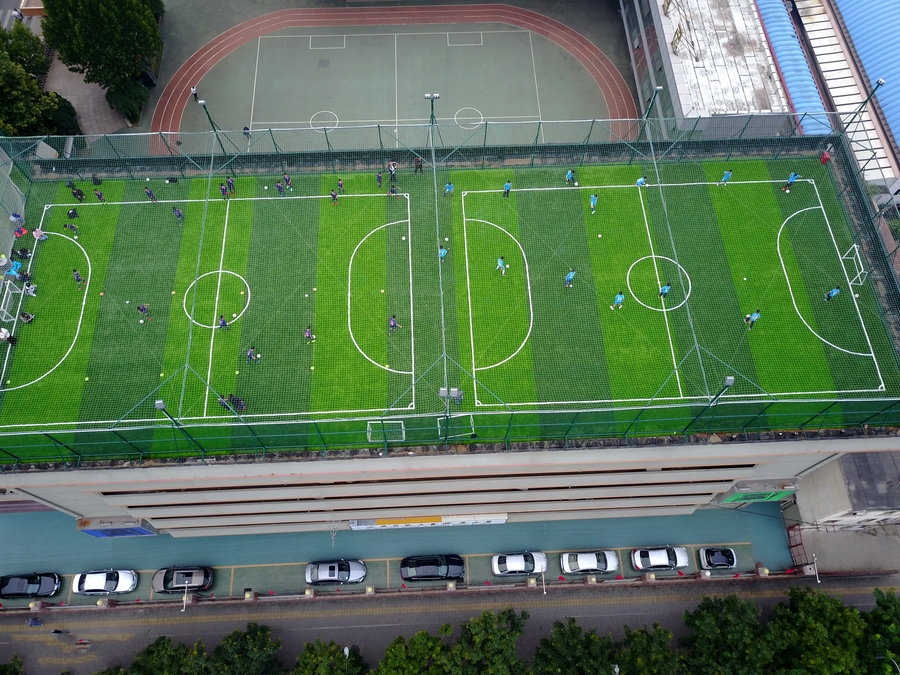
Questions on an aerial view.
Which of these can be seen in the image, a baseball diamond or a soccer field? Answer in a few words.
soccer field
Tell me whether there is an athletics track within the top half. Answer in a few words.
Yes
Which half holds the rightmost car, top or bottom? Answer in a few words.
bottom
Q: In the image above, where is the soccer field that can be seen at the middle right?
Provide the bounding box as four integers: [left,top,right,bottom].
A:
[461,179,885,407]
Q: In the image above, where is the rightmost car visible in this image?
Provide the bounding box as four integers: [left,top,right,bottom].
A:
[697,544,738,570]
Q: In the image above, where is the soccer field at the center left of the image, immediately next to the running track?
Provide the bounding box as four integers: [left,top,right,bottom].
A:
[0,192,416,426]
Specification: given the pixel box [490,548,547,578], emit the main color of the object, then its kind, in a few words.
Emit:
white car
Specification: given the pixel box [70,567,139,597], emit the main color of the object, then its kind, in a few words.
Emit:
white car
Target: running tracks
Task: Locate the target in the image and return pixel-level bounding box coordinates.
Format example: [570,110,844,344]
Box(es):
[147,3,640,157]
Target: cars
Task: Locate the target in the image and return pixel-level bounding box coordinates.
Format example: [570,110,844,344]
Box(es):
[305,556,367,586]
[70,567,139,597]
[628,543,689,572]
[399,552,466,583]
[151,565,214,596]
[0,570,62,600]
[697,544,738,570]
[559,547,619,577]
[490,548,547,578]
